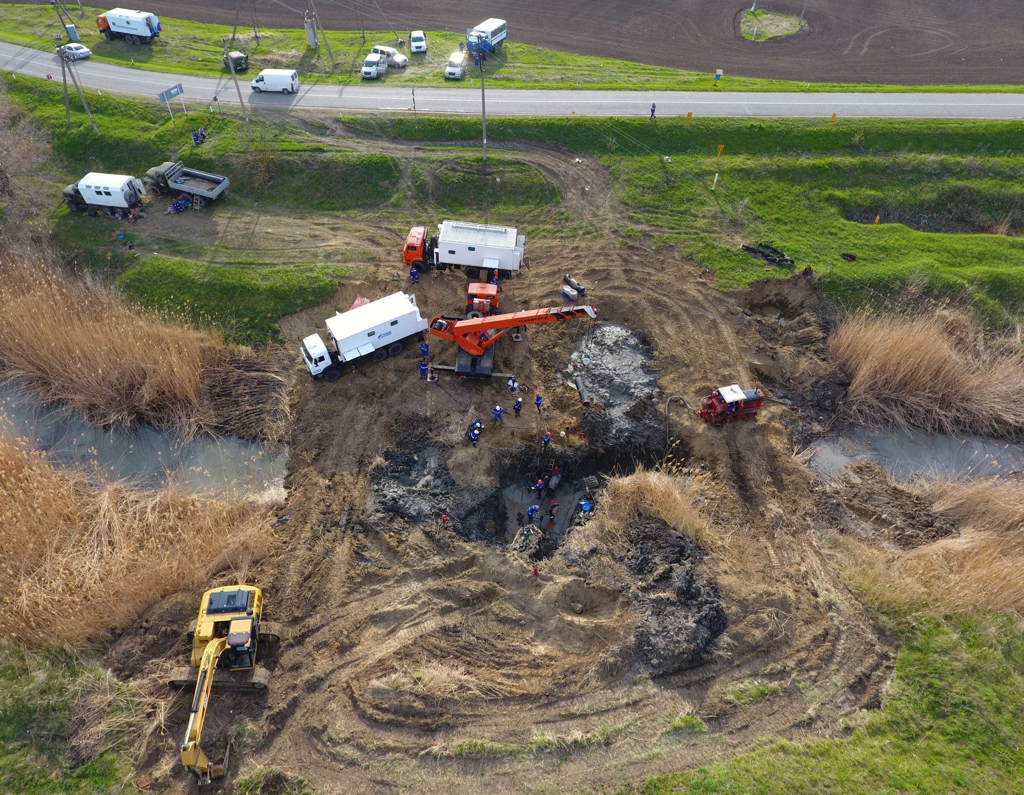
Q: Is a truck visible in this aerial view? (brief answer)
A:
Yes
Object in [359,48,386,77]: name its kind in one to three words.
car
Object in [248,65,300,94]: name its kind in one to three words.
van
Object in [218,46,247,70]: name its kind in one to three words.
car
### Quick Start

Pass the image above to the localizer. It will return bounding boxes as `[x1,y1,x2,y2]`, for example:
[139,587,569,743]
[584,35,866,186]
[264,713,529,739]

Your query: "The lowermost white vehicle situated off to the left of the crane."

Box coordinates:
[294,289,425,383]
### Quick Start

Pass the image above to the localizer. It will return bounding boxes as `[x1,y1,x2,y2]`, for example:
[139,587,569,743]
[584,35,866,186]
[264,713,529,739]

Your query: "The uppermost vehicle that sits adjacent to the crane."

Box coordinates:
[400,217,531,281]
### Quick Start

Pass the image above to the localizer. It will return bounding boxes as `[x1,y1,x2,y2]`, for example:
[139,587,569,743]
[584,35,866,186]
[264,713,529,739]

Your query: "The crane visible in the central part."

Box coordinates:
[424,280,600,393]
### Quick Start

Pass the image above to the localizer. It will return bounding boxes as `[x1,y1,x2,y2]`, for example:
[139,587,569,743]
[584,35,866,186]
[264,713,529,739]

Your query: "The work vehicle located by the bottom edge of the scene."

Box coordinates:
[170,587,287,782]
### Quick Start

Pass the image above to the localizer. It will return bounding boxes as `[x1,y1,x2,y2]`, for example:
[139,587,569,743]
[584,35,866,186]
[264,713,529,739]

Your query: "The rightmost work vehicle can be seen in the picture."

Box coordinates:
[698,383,768,435]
